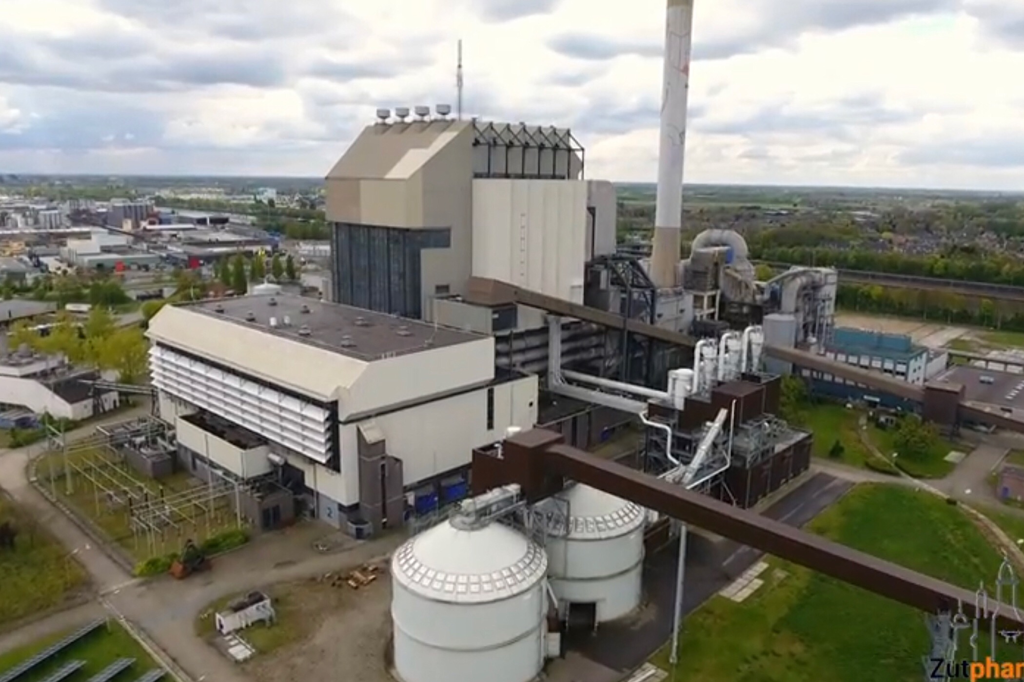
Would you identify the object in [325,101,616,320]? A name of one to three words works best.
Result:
building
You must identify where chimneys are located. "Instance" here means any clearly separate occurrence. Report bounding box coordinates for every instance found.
[651,0,695,289]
